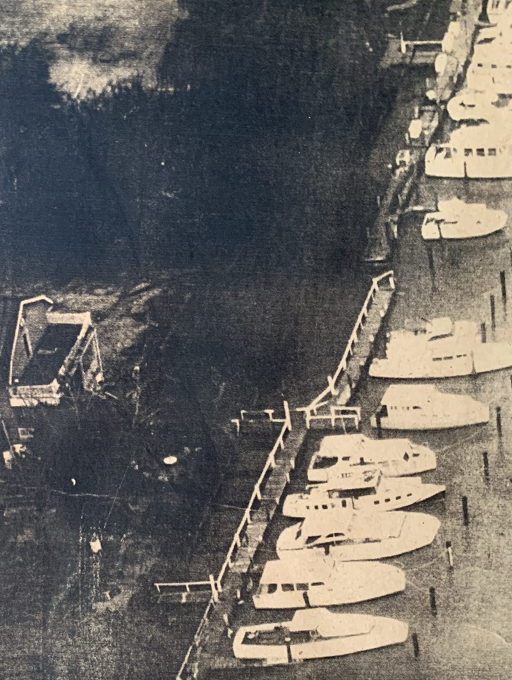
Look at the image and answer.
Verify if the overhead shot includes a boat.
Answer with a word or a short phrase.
Yes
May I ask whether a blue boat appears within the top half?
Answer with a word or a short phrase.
No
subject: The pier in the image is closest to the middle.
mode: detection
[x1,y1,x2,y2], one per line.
[314,288,399,427]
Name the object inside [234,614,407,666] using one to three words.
boat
